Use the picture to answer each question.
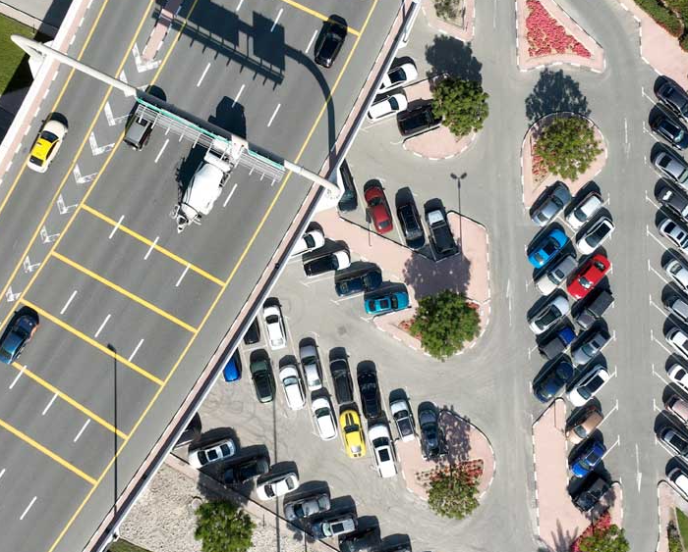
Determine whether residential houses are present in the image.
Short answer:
No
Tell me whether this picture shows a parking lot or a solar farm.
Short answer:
parking lot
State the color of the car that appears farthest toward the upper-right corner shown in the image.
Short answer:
black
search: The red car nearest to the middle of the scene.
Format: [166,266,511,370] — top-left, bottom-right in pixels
[363,183,396,235]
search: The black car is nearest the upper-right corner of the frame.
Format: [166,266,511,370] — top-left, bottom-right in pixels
[652,75,688,120]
